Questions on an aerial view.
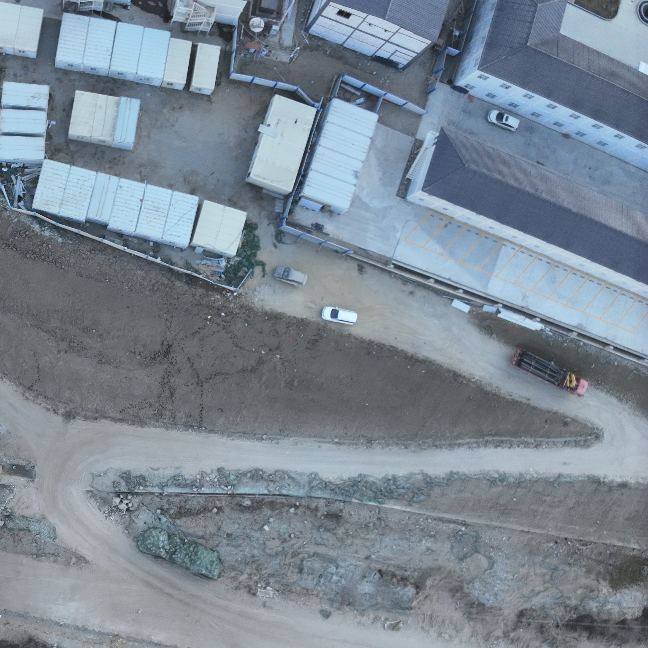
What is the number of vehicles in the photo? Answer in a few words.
four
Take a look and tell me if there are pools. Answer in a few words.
No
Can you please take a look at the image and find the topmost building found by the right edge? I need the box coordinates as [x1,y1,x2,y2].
[458,0,648,170]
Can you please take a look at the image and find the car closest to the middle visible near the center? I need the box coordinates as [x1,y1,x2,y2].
[320,305,358,326]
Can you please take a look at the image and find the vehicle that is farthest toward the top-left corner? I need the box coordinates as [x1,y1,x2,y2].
[271,266,308,287]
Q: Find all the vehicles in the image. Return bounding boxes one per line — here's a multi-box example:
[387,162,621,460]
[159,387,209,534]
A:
[320,305,358,326]
[509,347,594,398]
[484,110,521,133]
[271,266,308,287]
